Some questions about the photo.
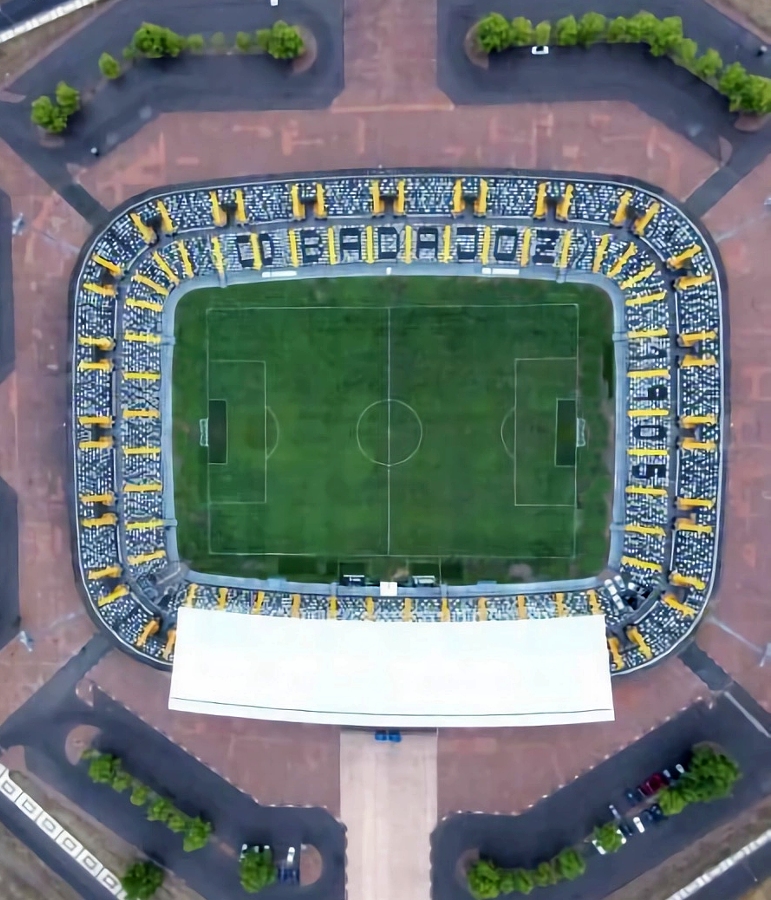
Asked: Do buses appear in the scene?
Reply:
No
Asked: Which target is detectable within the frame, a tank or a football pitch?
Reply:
football pitch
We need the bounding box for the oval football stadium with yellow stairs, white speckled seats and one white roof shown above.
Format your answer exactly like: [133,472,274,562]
[65,164,731,727]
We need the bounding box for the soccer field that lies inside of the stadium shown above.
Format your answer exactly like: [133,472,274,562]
[173,275,616,585]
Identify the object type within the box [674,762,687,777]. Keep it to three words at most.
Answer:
vehicle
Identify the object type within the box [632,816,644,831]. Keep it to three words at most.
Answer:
vehicle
